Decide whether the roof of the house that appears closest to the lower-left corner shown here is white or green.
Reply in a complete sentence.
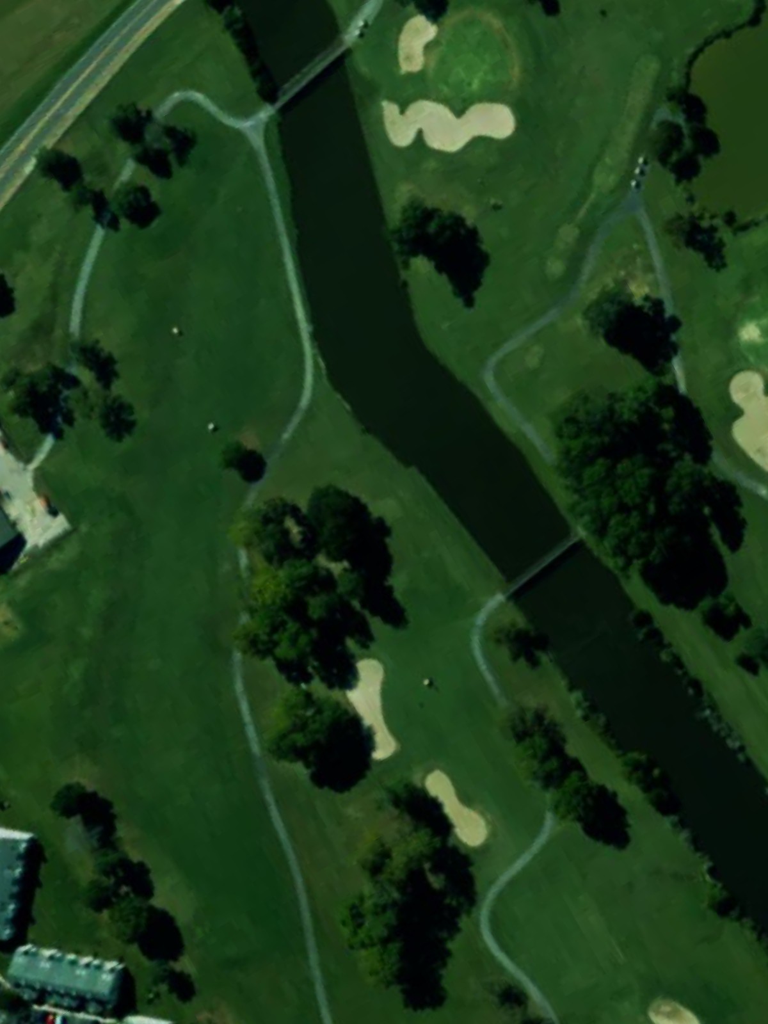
From above, the roof of the house that appears closest to the lower-left corner appears green.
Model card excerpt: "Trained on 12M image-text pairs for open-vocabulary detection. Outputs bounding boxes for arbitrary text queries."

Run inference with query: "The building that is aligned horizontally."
[10,947,122,1012]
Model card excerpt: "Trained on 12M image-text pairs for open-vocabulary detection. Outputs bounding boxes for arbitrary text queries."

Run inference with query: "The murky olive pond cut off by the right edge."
[690,4,768,228]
